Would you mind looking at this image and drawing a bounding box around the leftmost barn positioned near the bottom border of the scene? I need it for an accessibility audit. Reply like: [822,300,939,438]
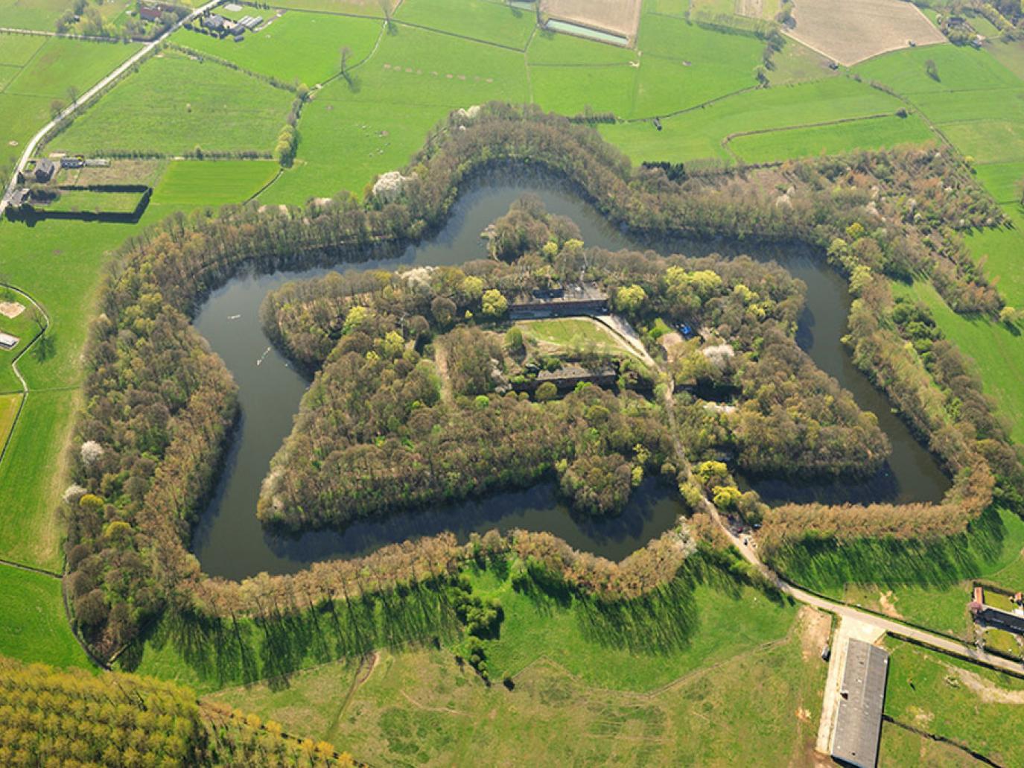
[828,642,892,768]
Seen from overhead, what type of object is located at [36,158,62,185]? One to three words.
house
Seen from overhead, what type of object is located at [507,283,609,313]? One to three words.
building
